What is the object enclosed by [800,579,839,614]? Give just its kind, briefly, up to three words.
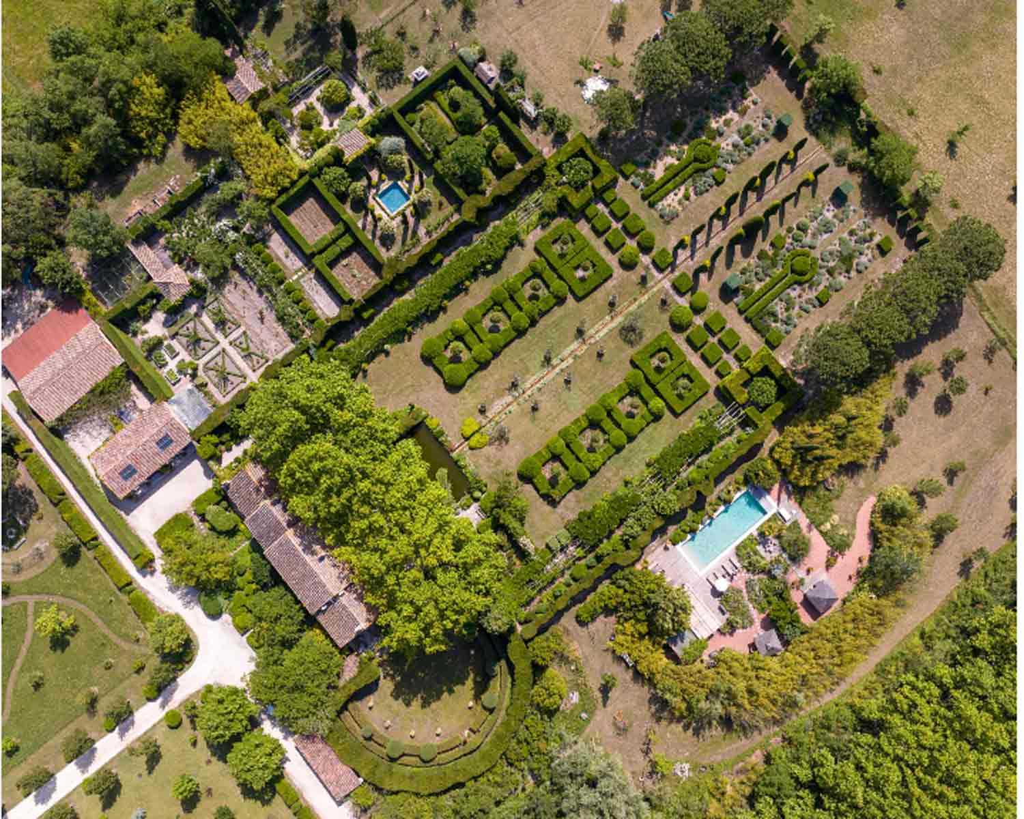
building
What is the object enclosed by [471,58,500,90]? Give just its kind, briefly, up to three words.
shed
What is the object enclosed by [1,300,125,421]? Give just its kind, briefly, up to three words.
barn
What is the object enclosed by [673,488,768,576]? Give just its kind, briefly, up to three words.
swimming pool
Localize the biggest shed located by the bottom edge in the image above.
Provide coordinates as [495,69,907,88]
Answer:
[295,730,362,803]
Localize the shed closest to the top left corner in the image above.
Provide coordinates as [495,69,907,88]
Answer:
[228,61,267,108]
